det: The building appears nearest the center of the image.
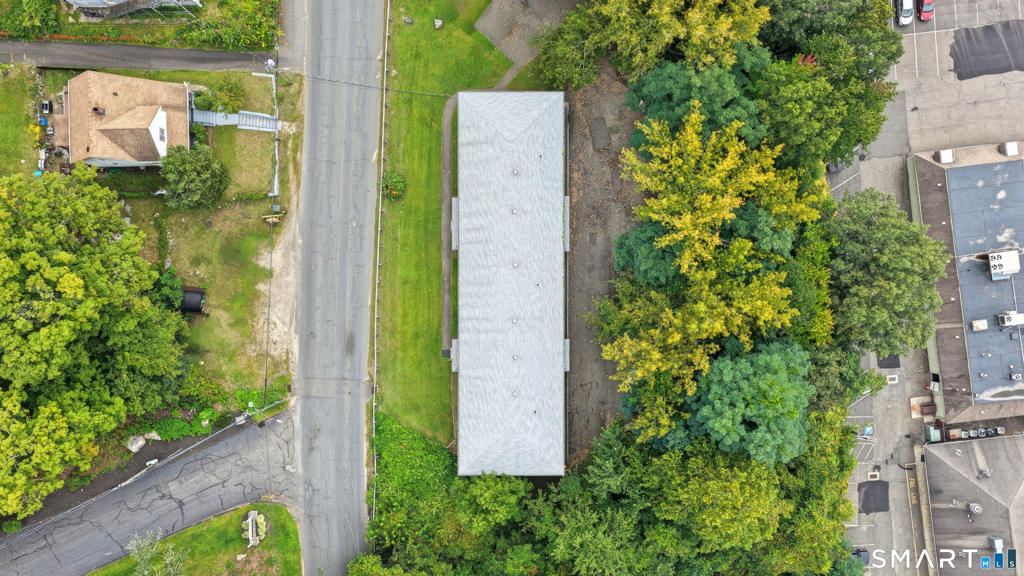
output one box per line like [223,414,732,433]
[451,91,570,476]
